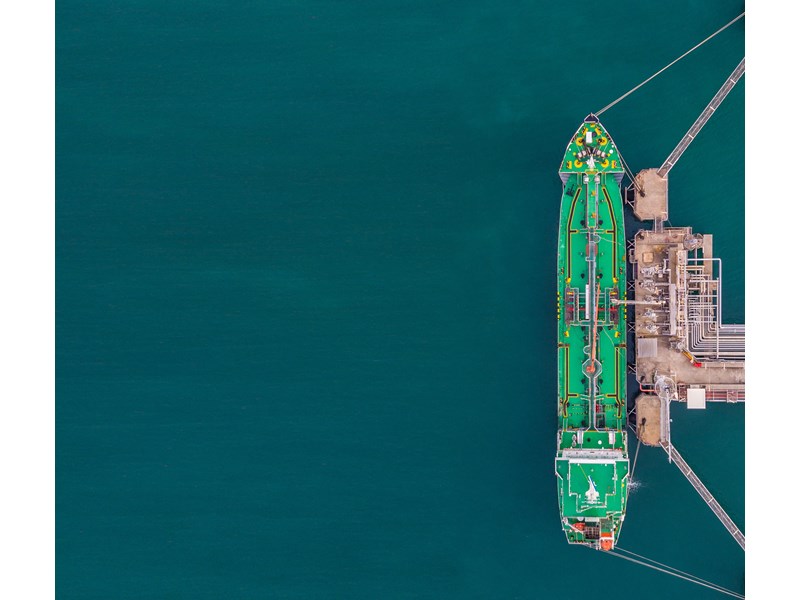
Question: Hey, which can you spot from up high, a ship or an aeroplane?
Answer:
ship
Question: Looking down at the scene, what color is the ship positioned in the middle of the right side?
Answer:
green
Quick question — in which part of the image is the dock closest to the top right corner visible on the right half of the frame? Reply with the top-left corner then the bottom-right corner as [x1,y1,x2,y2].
[703,234,716,330]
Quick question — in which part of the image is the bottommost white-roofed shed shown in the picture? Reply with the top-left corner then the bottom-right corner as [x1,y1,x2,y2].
[687,389,705,409]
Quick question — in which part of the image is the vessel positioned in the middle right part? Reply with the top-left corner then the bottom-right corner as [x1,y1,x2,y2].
[555,113,630,550]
